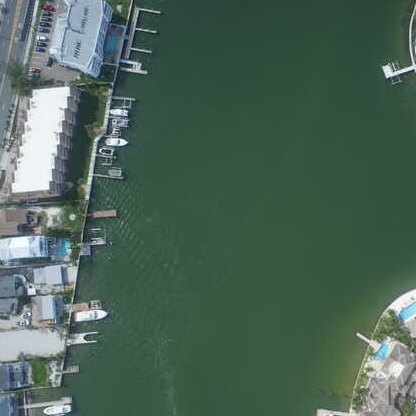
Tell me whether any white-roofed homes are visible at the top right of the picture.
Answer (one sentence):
No, no white-roofed home can be made out at the top right of the picture.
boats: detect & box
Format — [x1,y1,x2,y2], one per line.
[105,139,129,146]
[112,119,129,126]
[110,110,129,116]
[99,148,115,155]
[43,406,73,414]
[73,310,109,322]
[110,171,122,176]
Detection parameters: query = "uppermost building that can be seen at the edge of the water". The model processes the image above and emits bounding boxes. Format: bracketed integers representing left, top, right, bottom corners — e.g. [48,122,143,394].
[50,0,118,77]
